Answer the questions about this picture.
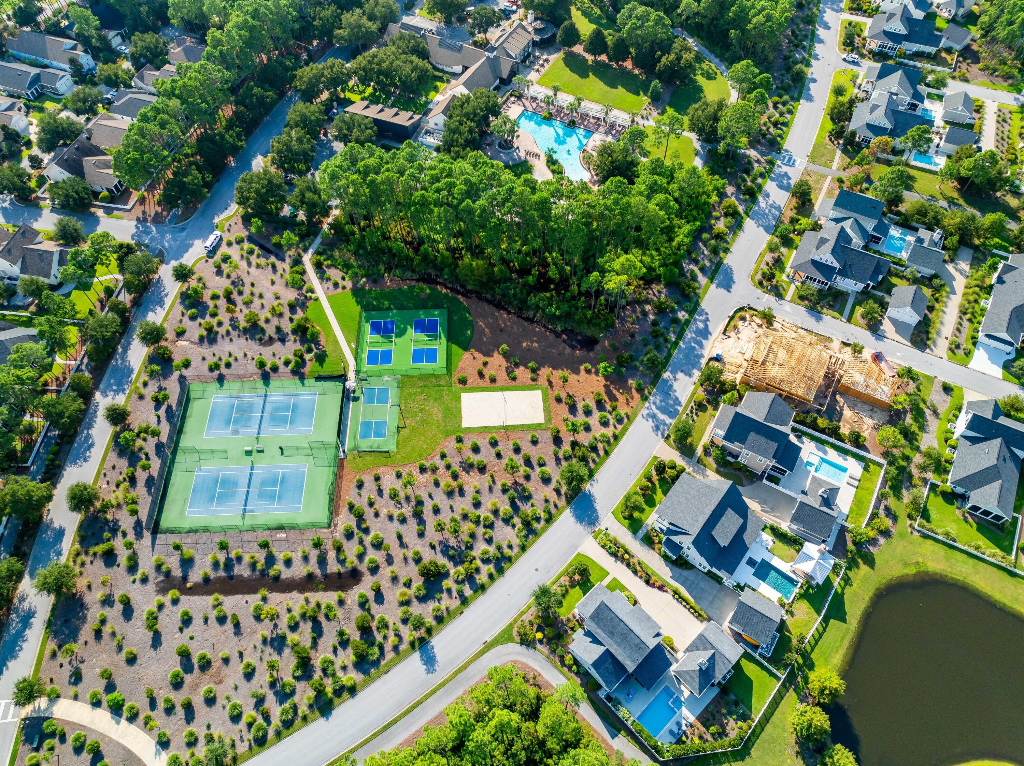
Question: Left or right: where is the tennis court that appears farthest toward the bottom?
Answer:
left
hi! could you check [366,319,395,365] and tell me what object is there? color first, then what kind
blue sports court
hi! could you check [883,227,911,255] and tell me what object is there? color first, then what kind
blue swimming pool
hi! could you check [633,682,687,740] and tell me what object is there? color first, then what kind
blue swimming pool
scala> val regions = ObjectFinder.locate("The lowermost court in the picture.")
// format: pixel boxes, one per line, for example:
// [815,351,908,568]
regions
[185,460,308,517]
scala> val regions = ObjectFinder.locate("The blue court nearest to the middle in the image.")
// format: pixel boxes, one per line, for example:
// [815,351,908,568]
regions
[411,318,440,364]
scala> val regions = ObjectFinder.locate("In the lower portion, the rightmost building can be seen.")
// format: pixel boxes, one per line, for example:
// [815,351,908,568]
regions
[949,399,1024,524]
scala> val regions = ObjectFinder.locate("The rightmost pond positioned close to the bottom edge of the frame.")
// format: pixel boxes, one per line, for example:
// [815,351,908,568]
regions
[815,580,1024,766]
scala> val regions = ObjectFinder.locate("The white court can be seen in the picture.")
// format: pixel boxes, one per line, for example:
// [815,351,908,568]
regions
[461,390,544,427]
